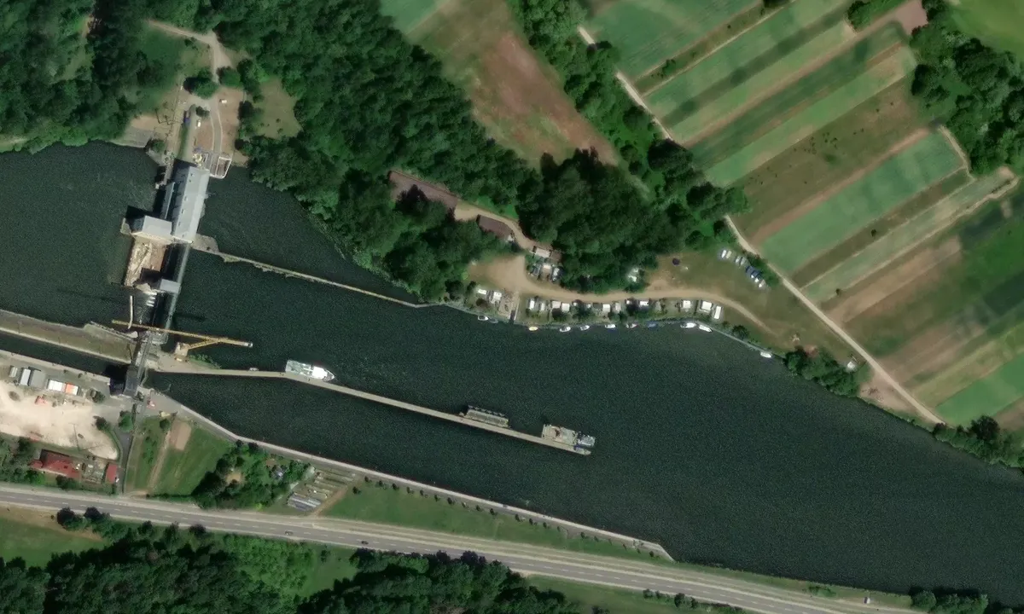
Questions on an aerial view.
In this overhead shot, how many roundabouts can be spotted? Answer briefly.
0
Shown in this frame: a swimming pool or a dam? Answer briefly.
dam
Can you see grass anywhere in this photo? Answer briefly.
Yes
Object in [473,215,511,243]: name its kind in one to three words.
barn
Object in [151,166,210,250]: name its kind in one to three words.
building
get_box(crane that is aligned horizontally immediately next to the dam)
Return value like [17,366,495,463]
[112,319,253,362]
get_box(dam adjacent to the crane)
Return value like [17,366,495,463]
[123,236,189,344]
